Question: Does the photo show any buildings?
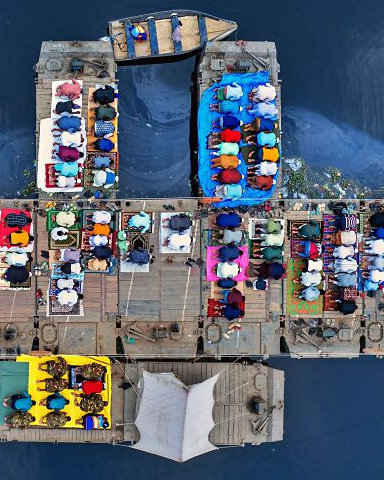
No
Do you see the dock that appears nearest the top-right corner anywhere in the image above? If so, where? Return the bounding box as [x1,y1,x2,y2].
[192,41,286,200]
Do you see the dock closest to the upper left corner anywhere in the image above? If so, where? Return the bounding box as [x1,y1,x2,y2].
[30,41,123,200]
